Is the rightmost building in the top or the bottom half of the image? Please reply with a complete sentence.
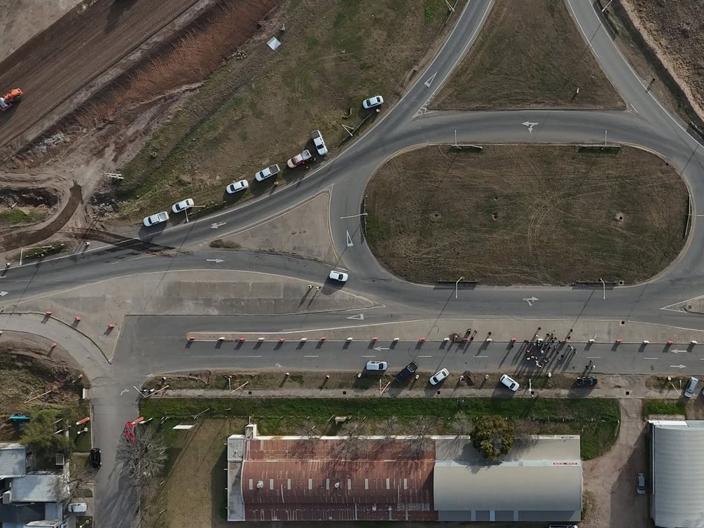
Seen from above, the rightmost building lies in the bottom half of the view.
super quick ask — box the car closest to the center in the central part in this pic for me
[325,271,347,283]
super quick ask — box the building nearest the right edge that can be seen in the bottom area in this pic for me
[644,414,704,528]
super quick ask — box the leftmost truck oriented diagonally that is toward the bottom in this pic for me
[394,361,418,383]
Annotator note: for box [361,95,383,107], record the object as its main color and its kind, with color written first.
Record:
white vehicle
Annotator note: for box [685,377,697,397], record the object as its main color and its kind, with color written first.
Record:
gray vehicle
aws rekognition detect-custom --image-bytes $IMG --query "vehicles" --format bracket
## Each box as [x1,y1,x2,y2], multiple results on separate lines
[577,377,598,387]
[428,368,449,387]
[253,163,279,181]
[361,95,383,107]
[637,474,645,493]
[66,504,86,515]
[287,149,312,168]
[498,375,519,391]
[171,198,193,213]
[325,271,347,283]
[123,423,136,443]
[141,211,166,225]
[685,377,697,397]
[86,448,99,469]
[365,361,385,371]
[394,361,418,383]
[226,179,247,193]
[0,89,18,110]
[309,130,326,156]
